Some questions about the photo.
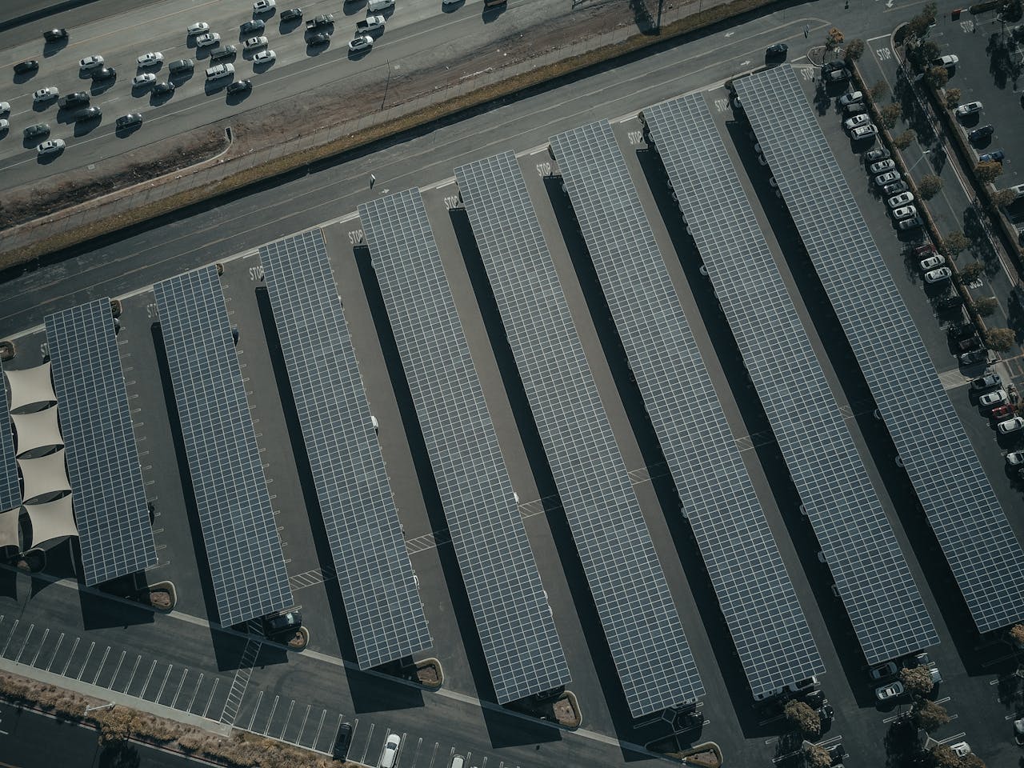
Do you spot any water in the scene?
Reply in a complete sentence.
No, the picture contains no water.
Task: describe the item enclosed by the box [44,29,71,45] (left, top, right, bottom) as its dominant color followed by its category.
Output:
black car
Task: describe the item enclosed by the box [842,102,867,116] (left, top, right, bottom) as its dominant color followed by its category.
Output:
gray car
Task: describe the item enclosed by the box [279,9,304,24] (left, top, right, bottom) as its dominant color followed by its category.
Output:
black car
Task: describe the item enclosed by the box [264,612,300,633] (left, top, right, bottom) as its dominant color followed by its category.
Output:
black vehicle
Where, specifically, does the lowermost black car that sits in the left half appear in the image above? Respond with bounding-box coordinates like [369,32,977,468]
[334,723,356,760]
